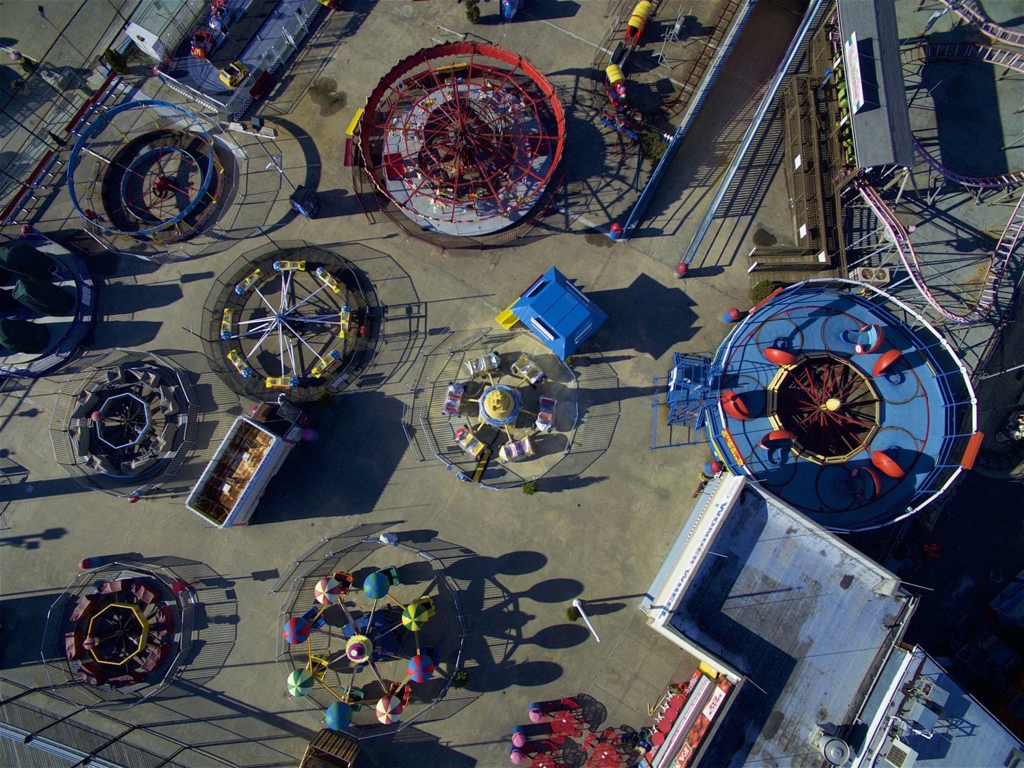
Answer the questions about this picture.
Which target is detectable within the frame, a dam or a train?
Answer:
train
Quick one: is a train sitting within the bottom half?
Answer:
No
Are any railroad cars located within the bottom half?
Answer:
No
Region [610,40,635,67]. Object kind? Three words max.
rail car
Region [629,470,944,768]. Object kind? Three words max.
building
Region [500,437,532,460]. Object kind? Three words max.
car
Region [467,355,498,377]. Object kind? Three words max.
car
